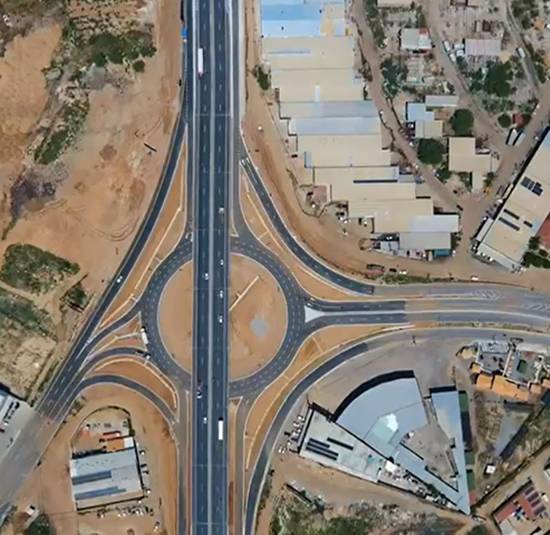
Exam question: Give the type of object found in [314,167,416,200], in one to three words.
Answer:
building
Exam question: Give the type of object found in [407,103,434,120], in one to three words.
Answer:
house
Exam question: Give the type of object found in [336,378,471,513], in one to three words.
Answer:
building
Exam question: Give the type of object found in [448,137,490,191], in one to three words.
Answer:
house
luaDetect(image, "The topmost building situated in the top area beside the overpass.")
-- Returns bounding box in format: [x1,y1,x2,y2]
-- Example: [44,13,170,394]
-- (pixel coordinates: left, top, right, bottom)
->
[262,0,346,37]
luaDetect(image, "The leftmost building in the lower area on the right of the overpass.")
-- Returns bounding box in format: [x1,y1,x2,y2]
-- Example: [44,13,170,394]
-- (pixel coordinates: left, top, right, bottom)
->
[300,412,387,481]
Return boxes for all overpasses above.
[191,0,233,535]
